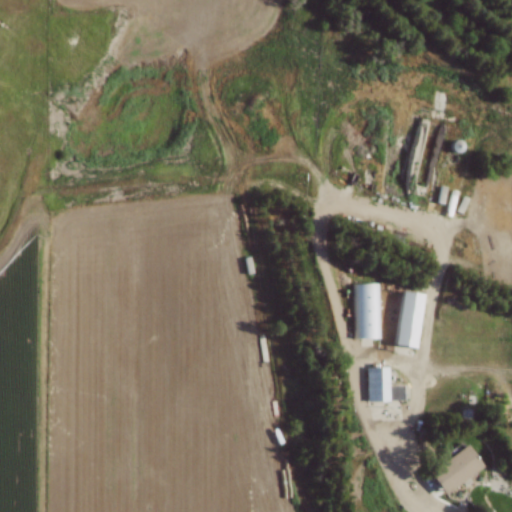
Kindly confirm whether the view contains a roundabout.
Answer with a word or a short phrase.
No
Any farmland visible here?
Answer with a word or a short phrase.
Yes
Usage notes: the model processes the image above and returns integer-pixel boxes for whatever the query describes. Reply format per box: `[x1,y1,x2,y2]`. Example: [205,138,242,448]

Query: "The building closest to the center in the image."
[355,284,382,340]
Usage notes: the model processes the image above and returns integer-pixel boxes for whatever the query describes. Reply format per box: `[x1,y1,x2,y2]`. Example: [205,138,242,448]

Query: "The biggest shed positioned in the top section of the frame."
[408,118,430,196]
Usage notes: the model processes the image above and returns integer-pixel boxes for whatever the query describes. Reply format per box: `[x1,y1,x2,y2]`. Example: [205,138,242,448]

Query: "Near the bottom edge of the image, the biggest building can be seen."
[437,448,486,496]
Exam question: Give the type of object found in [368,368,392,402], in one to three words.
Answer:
shed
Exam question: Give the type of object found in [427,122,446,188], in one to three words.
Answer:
shed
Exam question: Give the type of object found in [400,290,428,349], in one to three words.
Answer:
barn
